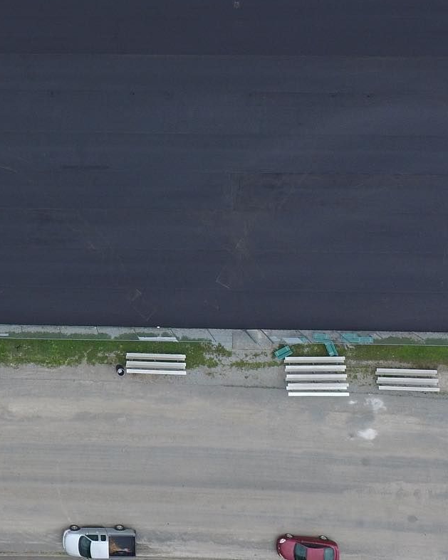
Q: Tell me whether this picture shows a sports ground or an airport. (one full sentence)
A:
The area seen from above is a sports ground.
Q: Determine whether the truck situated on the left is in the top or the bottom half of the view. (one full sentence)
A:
The truck situated on the left is in the bottom half of the image.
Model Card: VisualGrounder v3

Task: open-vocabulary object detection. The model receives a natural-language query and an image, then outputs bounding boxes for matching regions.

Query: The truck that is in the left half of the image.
[62,524,136,560]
